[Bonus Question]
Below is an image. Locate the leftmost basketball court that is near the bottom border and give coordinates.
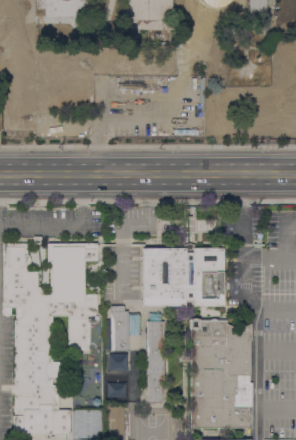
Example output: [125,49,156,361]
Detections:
[74,410,102,440]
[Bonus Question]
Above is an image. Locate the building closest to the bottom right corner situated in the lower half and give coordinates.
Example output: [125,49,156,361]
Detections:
[188,319,252,426]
